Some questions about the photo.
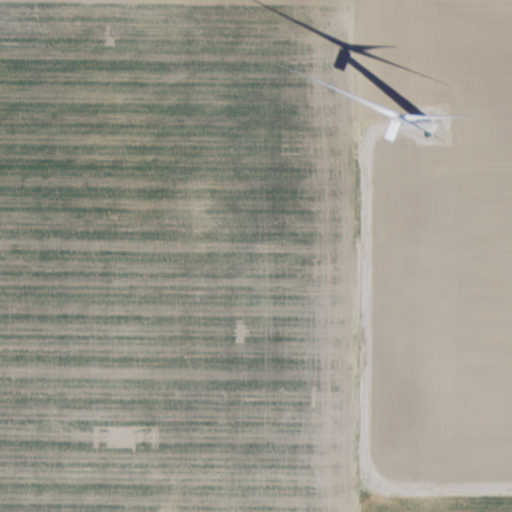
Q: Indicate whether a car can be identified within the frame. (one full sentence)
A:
No, no car is visible in the scene.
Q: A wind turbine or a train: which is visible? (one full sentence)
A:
There is a wind turbine in the scene.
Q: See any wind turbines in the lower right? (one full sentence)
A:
No, no wind turbine appears in the lower right.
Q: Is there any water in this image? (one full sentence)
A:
No, the scene doesn't show any water.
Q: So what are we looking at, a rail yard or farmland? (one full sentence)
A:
The area seen from above is farmland.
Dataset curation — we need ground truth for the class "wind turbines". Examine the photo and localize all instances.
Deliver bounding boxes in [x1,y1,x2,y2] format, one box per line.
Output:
[272,55,475,148]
